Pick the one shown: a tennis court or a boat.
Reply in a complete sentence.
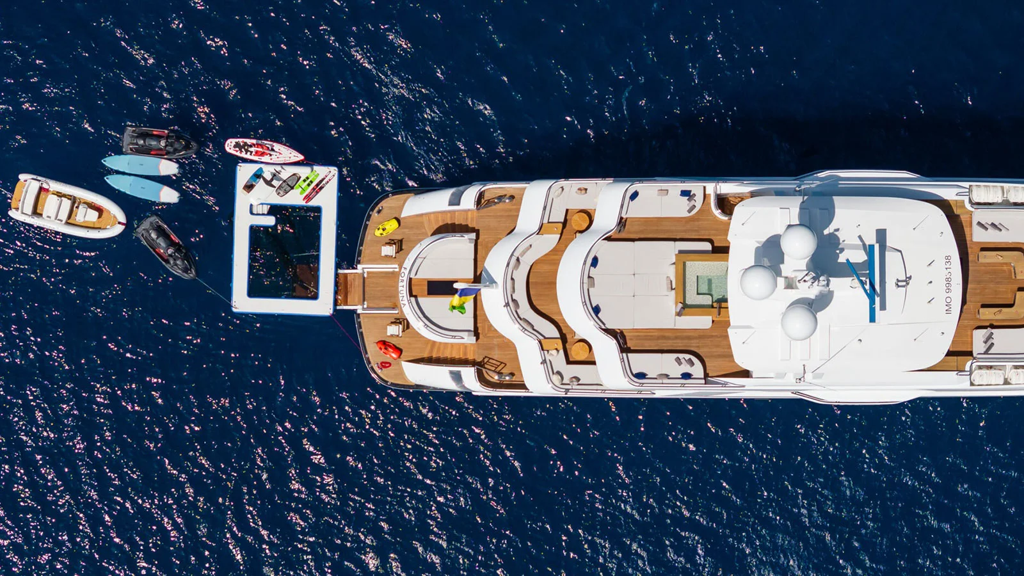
Visible in the photo is a boat.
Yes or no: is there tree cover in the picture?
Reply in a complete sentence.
No, there's no tree cover in this view.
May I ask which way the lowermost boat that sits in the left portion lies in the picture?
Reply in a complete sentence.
The lowermost boat that sits in the left portion is laid out diagonally.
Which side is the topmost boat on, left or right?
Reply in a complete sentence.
It is on the left.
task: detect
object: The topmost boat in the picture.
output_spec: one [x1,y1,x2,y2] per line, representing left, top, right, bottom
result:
[121,127,198,158]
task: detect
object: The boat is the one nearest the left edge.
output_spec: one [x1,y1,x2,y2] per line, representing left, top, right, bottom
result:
[6,171,125,238]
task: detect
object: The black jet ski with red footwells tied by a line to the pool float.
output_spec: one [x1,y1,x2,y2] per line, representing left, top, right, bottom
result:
[136,215,197,280]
